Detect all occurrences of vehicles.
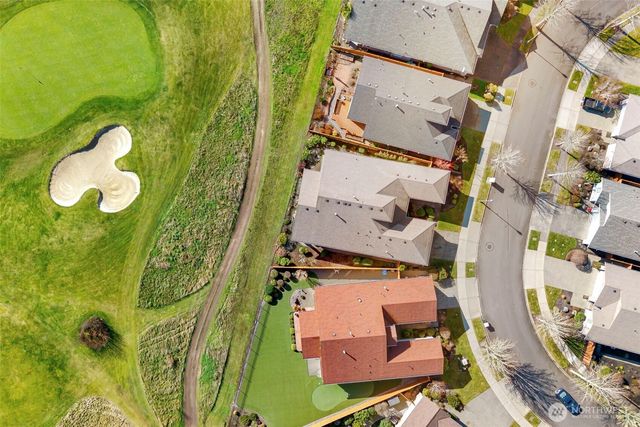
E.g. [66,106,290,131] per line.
[554,388,584,419]
[581,94,622,119]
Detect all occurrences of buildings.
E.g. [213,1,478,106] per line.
[599,94,640,179]
[348,56,471,161]
[346,0,508,78]
[391,393,462,427]
[584,178,640,263]
[291,149,451,266]
[294,276,443,384]
[581,263,640,354]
